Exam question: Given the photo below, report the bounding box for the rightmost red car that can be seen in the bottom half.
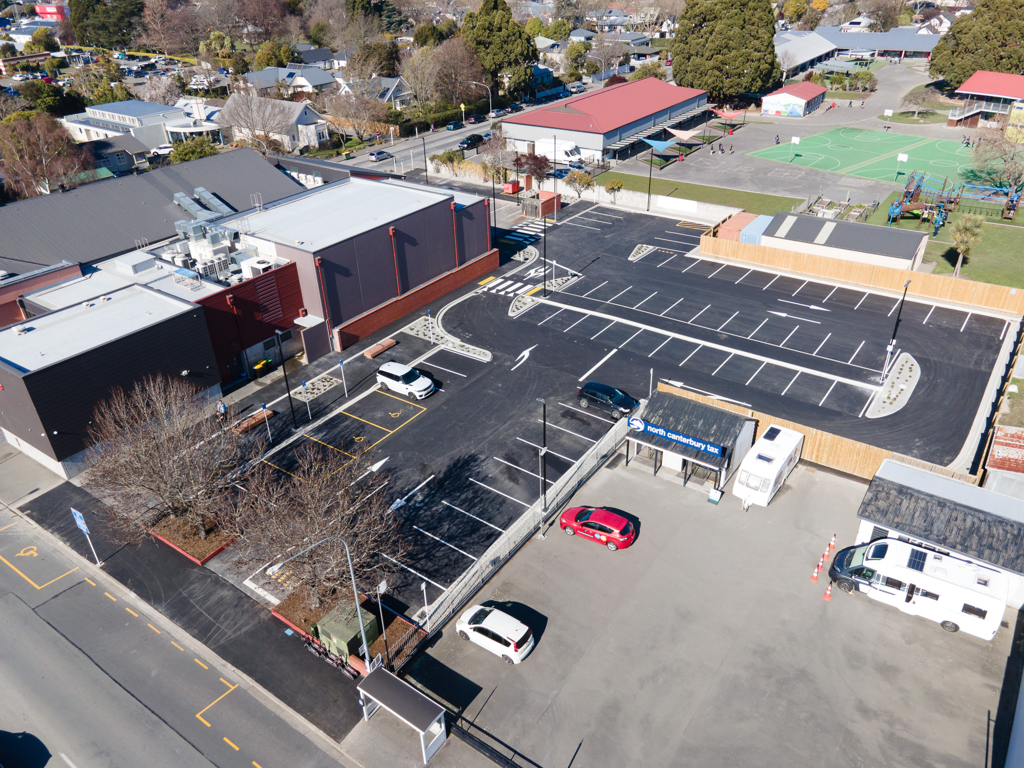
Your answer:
[558,502,640,550]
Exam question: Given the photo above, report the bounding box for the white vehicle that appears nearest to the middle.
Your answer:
[377,357,440,399]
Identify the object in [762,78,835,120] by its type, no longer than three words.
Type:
shed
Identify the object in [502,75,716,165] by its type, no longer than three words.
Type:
building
